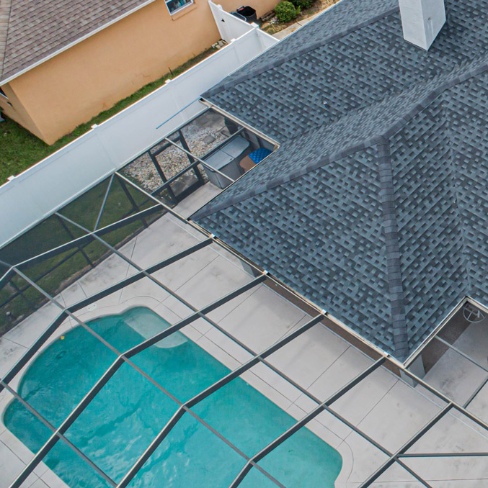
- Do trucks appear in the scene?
No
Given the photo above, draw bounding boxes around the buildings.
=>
[0,0,280,143]
[183,0,488,386]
